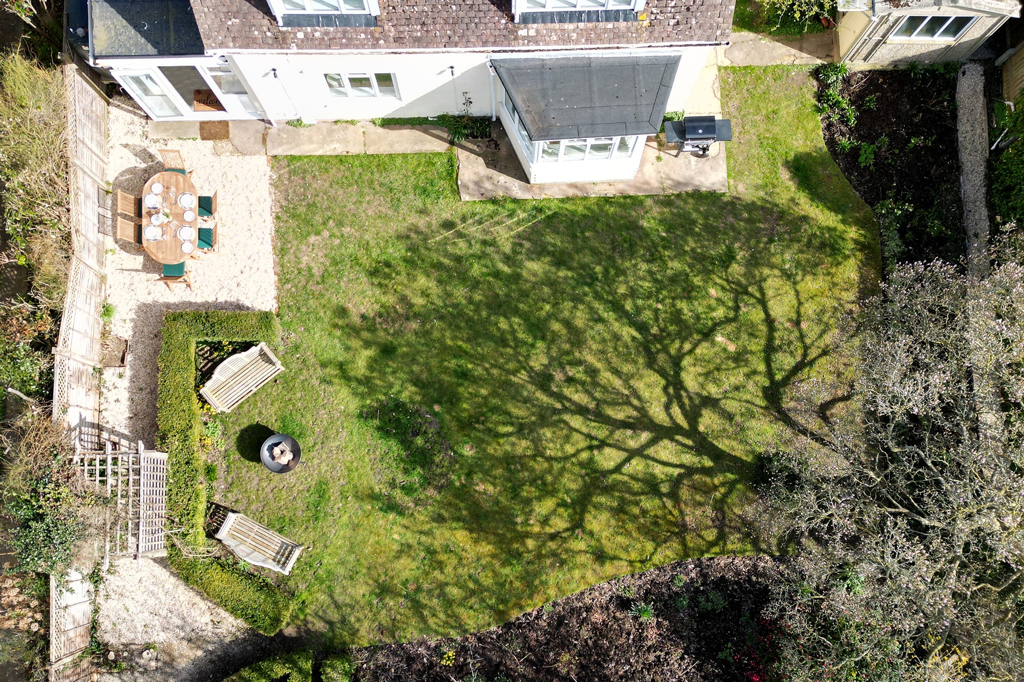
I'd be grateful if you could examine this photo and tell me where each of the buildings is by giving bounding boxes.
[831,0,1024,65]
[83,0,738,182]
